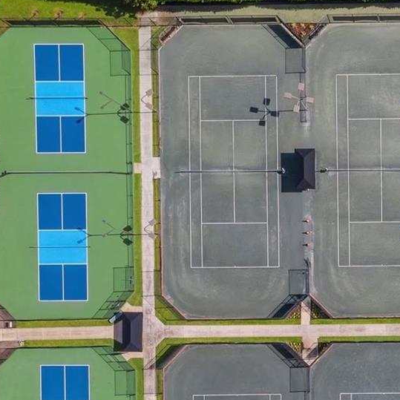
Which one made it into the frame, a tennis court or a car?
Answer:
tennis court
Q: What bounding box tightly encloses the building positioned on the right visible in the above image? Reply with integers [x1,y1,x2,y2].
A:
[294,148,315,190]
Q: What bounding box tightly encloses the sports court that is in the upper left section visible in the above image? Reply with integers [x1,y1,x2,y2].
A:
[0,26,132,172]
